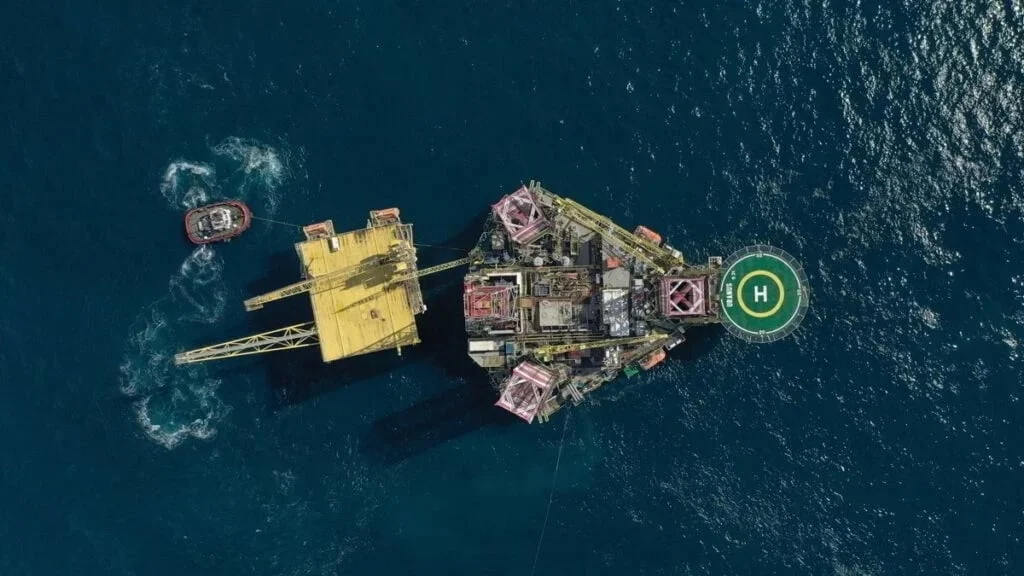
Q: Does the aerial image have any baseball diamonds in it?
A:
No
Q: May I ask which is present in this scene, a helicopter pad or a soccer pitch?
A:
helicopter pad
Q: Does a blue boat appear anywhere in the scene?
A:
No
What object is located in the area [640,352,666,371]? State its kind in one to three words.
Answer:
boat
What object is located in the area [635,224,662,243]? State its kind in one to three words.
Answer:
boat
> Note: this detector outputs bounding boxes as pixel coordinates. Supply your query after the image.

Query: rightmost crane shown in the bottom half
[529,332,670,363]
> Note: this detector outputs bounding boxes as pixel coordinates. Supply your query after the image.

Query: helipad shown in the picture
[711,246,811,342]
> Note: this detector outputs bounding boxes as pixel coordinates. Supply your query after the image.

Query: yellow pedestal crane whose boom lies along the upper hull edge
[545,194,668,276]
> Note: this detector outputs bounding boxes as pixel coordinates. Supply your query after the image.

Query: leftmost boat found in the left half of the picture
[185,200,254,244]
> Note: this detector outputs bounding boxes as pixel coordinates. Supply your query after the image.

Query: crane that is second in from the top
[243,243,420,312]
